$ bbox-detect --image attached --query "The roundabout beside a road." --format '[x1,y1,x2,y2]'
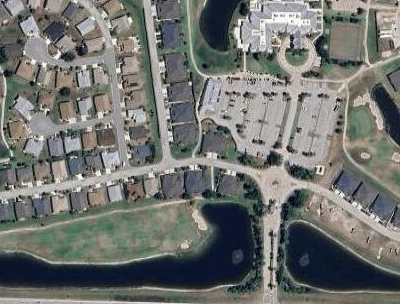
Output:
[254,163,300,206]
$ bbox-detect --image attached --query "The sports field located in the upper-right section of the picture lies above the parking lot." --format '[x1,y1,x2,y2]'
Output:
[330,22,364,59]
